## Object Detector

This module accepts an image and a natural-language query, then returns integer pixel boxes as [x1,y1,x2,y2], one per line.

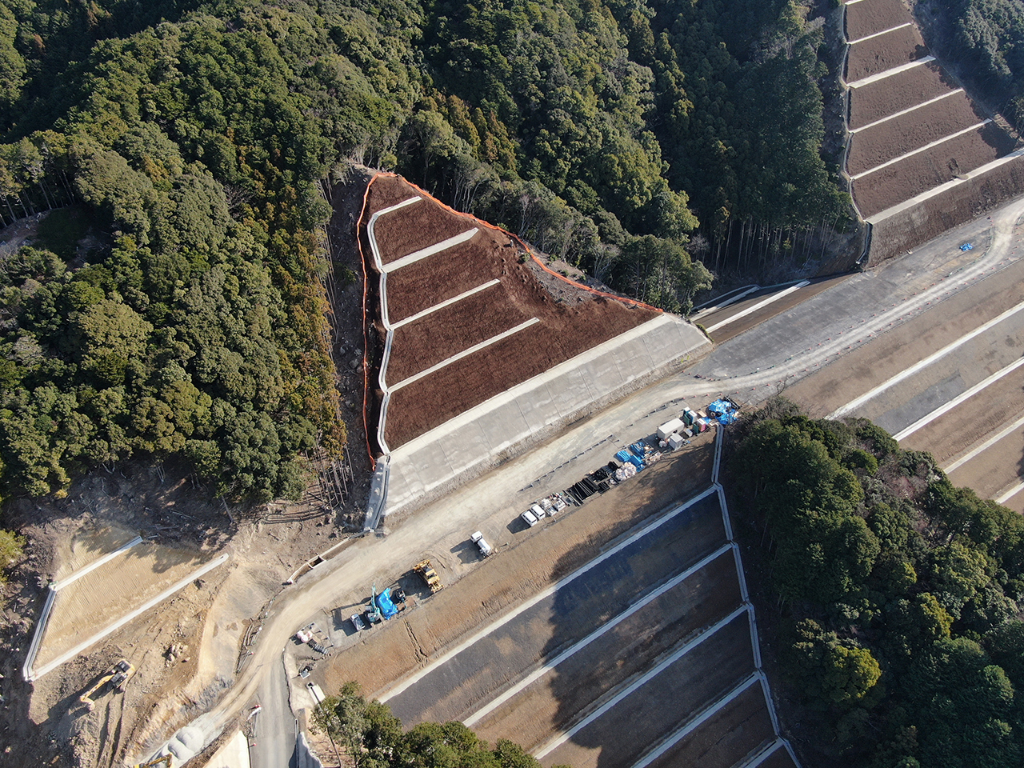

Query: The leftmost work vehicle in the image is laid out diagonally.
[75,659,136,710]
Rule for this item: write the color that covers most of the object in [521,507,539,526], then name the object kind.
white vehicle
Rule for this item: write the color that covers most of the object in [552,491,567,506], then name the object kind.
white vehicle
